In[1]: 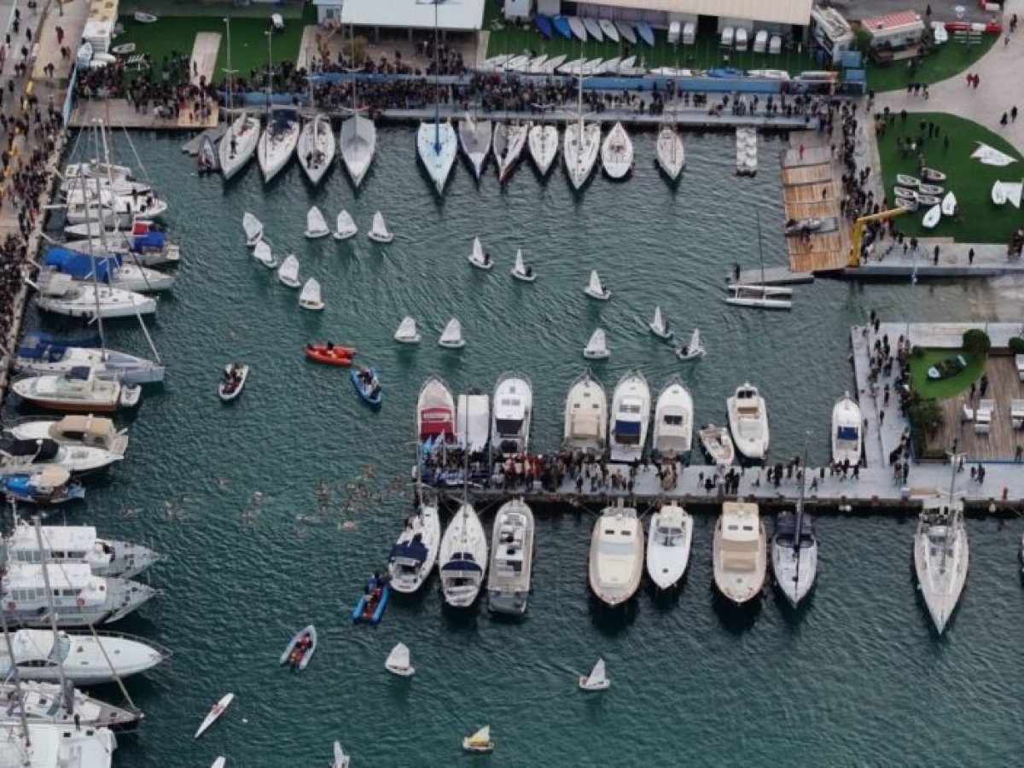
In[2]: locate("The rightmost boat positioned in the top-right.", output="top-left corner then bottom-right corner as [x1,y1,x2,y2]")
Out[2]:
[992,174,1008,205]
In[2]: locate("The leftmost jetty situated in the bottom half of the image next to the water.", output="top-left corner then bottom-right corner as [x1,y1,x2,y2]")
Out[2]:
[423,465,864,509]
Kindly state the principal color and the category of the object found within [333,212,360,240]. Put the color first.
white boat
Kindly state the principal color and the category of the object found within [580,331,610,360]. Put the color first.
white boat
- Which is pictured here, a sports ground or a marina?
marina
